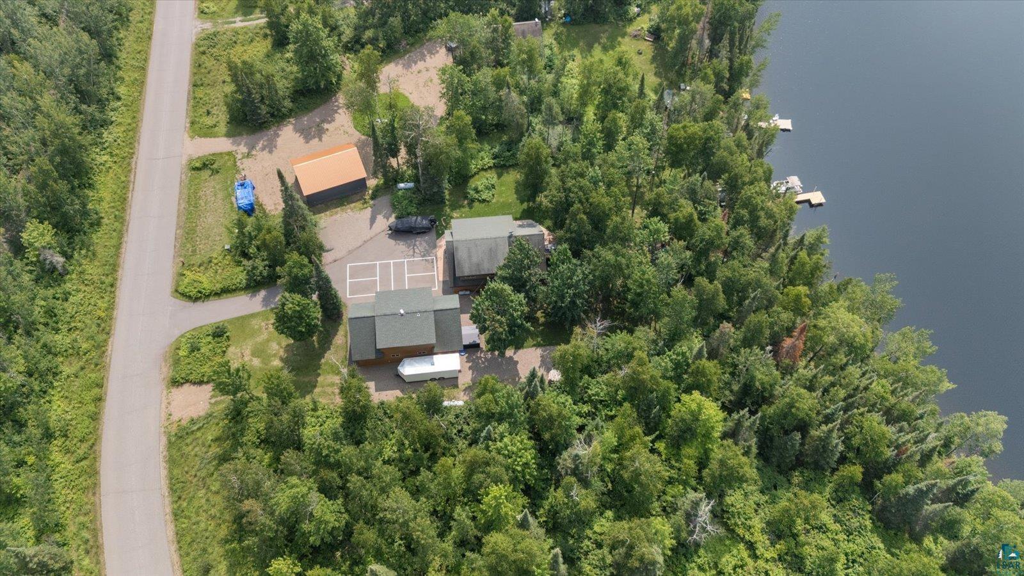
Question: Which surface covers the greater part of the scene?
trees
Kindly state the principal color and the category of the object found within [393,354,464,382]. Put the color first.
white trailer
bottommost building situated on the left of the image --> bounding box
[349,288,464,366]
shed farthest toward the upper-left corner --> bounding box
[291,141,367,204]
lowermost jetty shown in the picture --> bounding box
[787,186,826,207]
